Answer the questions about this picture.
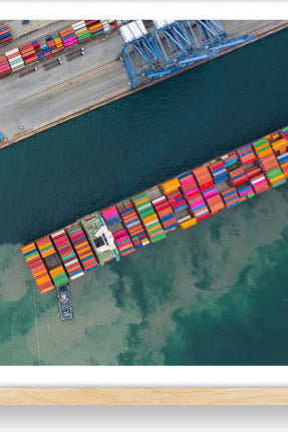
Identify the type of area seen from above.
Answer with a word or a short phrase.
port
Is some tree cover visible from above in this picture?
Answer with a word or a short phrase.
No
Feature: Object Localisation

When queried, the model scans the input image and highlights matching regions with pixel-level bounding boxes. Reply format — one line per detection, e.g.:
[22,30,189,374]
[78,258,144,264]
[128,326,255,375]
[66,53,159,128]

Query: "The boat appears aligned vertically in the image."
[56,282,74,322]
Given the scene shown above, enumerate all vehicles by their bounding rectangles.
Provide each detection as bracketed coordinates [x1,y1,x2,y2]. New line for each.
[20,68,38,76]
[46,61,62,69]
[69,51,84,60]
[67,47,84,56]
[44,58,61,65]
